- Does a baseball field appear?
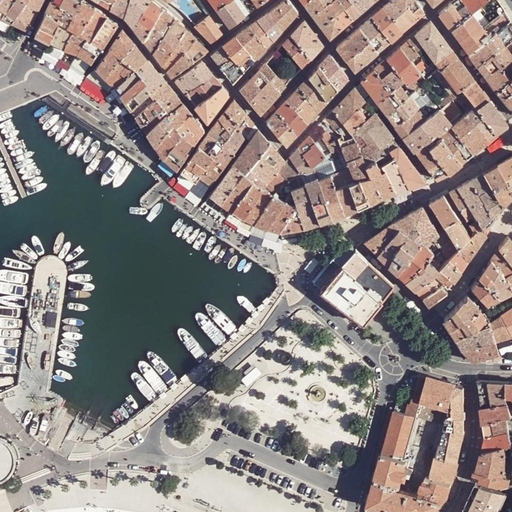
No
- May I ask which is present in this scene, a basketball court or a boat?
boat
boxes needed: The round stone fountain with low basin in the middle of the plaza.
[306,382,328,402]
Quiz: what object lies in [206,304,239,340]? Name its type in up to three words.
boat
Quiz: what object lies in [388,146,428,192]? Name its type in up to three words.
house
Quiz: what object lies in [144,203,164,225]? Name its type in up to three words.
boat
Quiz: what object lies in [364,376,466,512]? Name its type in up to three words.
building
